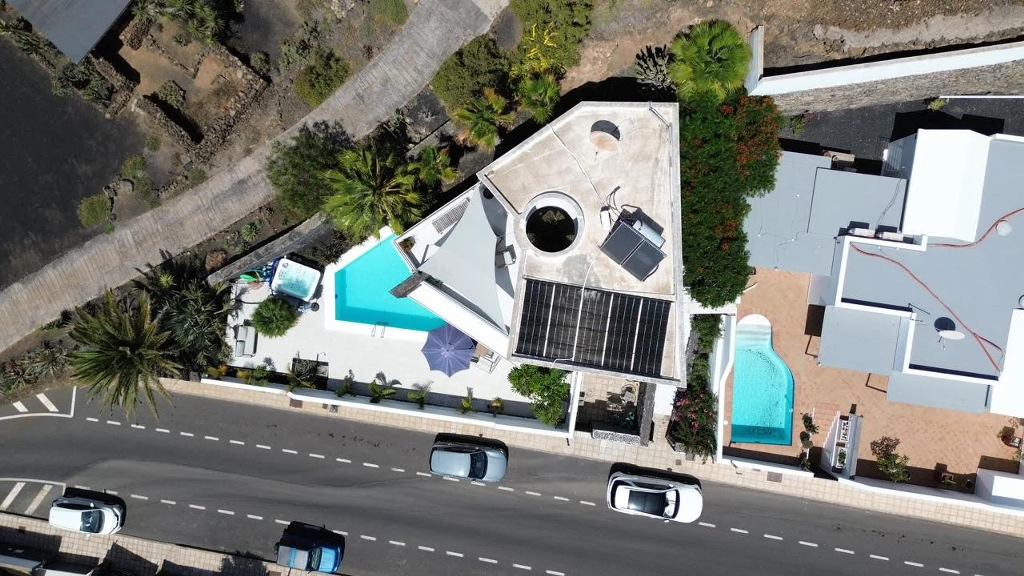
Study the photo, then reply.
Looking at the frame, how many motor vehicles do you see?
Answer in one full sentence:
There are 4 motor vehicles in the image.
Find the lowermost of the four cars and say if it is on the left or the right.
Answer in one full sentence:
The lowermost of the four cars is on the left side of the image.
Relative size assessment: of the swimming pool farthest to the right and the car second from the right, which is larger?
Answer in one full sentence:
The larger object is the swimming pool, with the car being the smaller of the pair.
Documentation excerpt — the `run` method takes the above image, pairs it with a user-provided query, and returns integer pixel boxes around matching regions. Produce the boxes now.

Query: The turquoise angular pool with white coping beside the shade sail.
[324,223,453,341]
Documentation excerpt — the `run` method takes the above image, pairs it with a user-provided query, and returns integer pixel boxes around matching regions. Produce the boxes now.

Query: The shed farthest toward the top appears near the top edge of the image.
[29,0,141,65]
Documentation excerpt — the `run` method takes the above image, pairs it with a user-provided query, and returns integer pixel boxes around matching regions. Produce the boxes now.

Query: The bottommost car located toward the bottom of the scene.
[271,529,345,573]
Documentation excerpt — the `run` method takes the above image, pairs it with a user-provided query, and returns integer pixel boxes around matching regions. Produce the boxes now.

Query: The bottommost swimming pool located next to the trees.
[724,313,795,446]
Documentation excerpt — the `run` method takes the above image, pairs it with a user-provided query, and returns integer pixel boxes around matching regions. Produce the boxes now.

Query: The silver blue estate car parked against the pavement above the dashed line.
[426,437,508,484]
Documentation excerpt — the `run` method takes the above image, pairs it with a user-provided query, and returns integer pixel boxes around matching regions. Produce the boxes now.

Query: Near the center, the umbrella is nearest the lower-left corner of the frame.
[421,321,477,377]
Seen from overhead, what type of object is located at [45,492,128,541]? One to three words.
car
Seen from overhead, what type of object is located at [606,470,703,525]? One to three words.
car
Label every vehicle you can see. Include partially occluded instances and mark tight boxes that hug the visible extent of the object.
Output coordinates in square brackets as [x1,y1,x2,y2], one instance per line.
[45,492,128,541]
[426,437,508,484]
[606,470,703,525]
[271,529,345,573]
